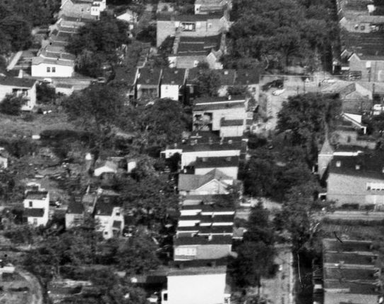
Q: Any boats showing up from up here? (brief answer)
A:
No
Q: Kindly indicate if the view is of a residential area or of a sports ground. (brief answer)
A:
residential area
